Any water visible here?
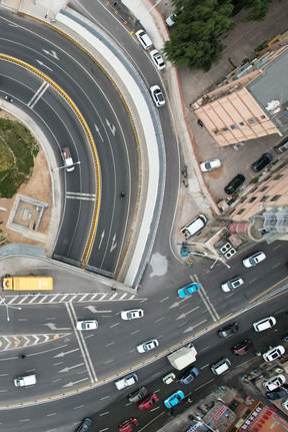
No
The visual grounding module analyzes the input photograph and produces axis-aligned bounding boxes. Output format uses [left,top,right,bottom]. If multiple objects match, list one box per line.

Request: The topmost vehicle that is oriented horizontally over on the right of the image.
[197,158,221,171]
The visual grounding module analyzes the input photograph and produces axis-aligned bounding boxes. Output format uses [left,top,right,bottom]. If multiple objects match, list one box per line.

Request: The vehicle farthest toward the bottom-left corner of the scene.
[13,372,37,386]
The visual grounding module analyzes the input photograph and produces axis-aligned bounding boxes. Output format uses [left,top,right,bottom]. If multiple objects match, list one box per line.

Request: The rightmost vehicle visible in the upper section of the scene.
[273,138,288,155]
